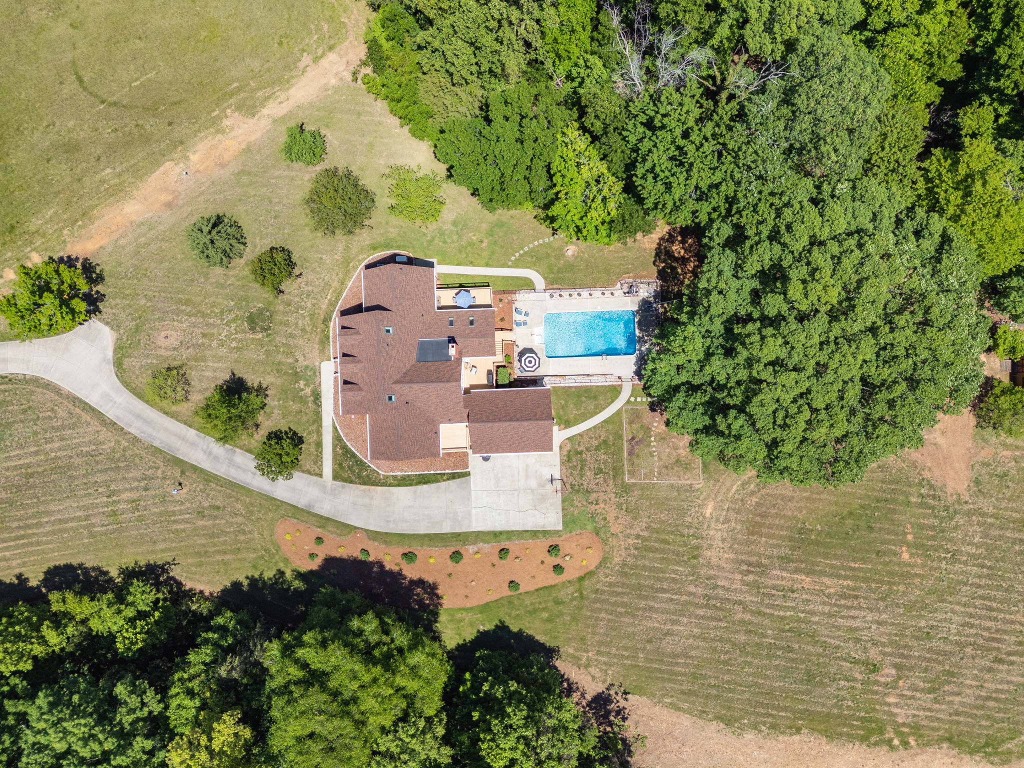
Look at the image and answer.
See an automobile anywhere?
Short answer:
No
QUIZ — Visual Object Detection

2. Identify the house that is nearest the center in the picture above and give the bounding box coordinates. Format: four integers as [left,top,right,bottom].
[335,263,553,461]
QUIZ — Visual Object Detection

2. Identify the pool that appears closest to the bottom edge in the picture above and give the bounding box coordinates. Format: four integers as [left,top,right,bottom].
[534,306,638,361]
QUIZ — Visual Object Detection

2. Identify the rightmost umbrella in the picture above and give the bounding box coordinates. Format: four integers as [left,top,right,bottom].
[521,352,540,372]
